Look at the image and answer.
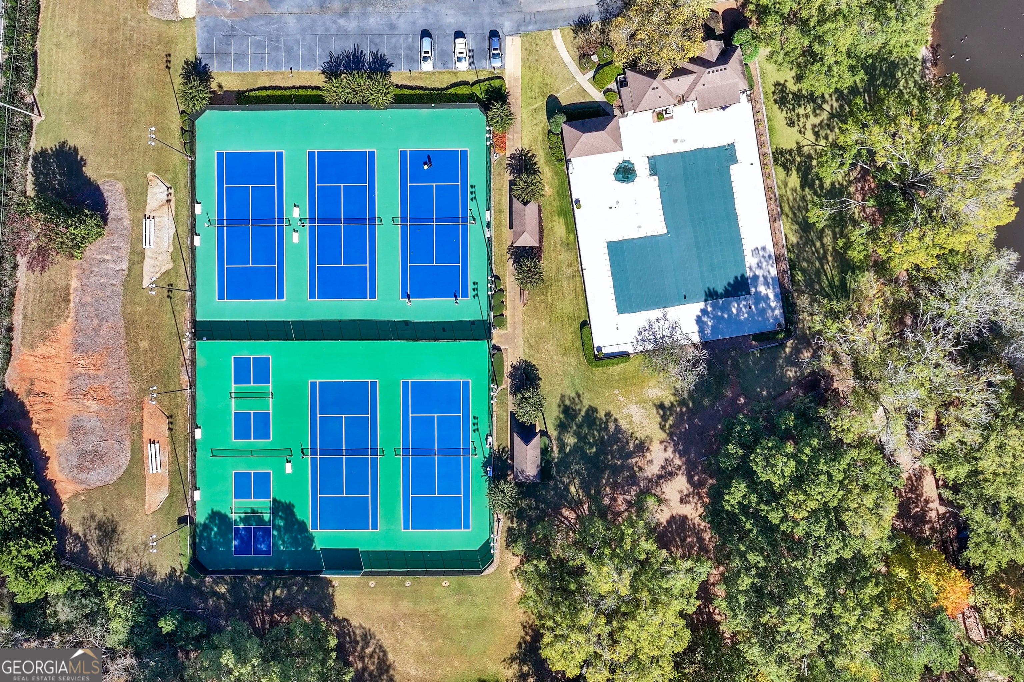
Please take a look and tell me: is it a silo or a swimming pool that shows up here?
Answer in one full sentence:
The one in the frame is a swimming pool.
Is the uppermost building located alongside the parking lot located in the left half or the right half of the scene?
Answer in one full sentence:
It is on the right.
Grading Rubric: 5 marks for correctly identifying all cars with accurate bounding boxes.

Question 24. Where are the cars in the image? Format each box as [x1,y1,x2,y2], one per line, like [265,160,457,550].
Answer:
[454,38,469,70]
[489,38,503,66]
[419,39,434,70]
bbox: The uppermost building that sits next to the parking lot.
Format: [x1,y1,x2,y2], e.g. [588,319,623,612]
[621,40,749,114]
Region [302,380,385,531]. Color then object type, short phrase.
blue tennis court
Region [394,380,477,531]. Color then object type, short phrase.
blue tennis court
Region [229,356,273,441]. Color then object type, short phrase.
blue sports court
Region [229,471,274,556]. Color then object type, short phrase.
blue sports court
